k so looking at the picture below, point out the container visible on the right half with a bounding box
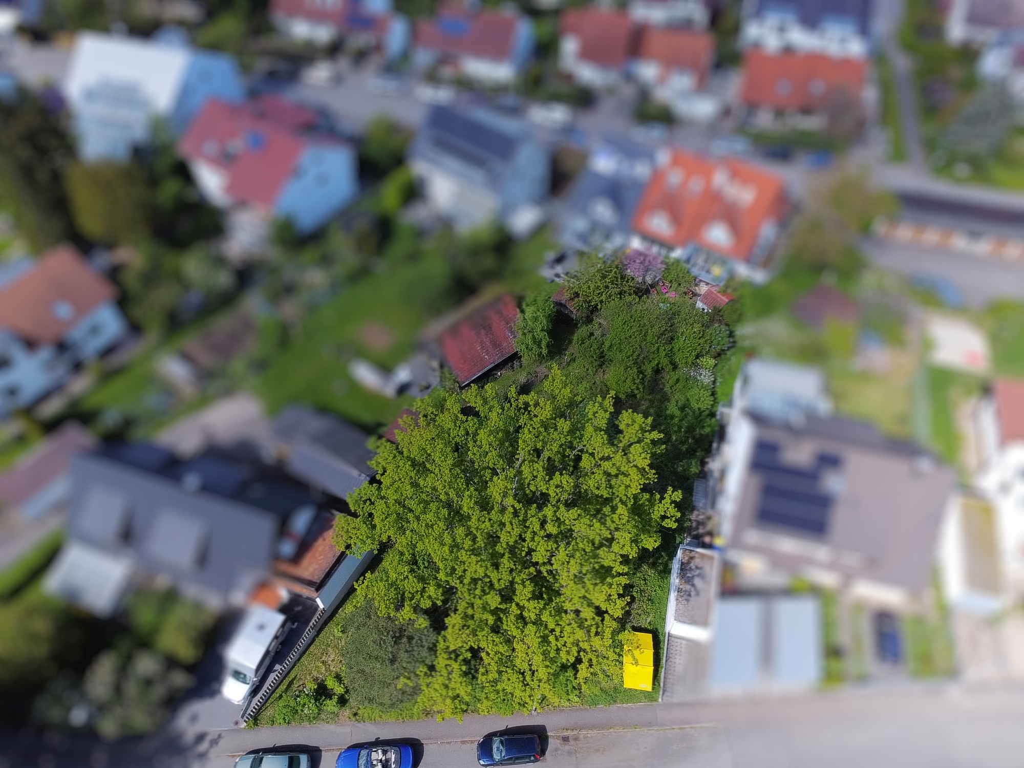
[621,634,659,691]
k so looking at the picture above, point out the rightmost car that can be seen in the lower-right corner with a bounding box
[872,614,909,675]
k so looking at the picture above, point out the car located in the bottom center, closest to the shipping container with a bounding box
[475,733,543,768]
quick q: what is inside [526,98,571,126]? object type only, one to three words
car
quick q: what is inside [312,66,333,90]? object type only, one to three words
car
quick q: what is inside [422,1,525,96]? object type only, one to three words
house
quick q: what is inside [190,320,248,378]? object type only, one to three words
shed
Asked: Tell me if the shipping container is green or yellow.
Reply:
yellow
